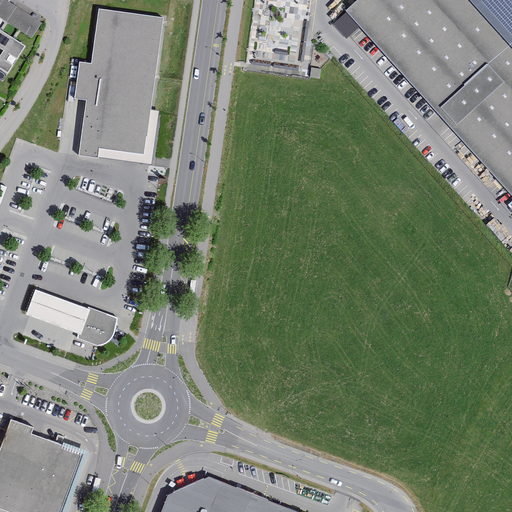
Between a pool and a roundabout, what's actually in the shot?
roundabout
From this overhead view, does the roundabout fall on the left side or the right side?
left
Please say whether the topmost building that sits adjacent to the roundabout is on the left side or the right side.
left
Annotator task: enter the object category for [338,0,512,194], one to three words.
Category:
building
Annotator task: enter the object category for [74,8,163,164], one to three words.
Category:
building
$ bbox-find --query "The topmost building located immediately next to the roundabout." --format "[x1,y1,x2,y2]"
[24,290,117,346]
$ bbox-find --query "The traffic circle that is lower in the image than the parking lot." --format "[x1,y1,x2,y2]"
[106,364,190,448]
